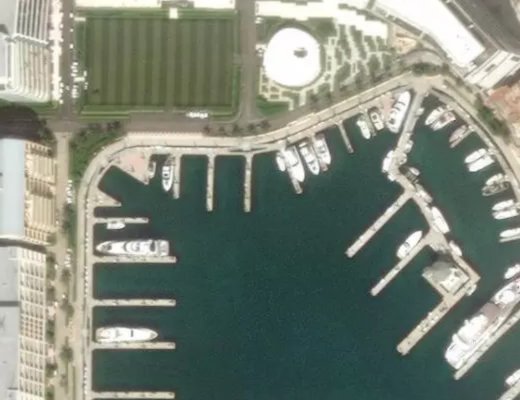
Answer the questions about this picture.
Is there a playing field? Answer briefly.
Yes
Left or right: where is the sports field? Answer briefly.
left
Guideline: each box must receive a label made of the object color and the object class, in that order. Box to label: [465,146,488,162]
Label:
white boat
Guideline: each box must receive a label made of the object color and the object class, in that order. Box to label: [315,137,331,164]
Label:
white boat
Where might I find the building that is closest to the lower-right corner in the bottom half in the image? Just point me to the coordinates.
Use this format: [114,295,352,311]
[419,258,474,299]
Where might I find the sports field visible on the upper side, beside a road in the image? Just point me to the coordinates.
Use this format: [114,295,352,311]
[79,9,239,121]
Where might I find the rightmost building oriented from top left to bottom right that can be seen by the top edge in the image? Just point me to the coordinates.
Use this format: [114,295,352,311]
[373,0,489,69]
